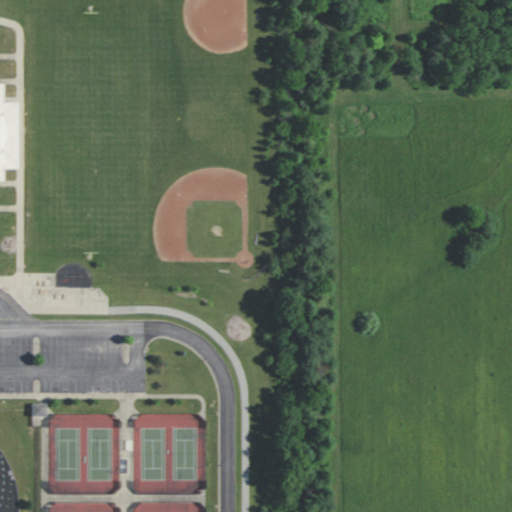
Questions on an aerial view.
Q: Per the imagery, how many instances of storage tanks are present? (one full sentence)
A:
The photo contains no storage tanks.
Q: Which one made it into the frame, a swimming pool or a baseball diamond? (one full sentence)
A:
This aerial view contains a baseball diamond.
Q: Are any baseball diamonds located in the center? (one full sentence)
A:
Yes, looking in the center, one can make out a baseball diamond.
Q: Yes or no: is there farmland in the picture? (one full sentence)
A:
Yes, farmland can be seen from above here.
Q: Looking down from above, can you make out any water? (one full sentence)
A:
No, there is no water in the image.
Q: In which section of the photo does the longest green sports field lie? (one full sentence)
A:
The longest green sports field sits in the top left section of the image.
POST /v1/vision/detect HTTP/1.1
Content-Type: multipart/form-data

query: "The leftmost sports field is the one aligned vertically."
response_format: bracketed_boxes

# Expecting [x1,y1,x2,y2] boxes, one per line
[36,14,144,252]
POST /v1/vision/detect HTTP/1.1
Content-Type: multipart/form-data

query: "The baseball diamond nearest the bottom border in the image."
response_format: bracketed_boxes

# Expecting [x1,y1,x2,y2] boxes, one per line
[154,168,254,268]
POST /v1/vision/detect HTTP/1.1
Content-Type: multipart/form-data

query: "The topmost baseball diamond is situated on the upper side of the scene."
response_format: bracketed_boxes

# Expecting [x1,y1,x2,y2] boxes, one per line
[184,0,248,53]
